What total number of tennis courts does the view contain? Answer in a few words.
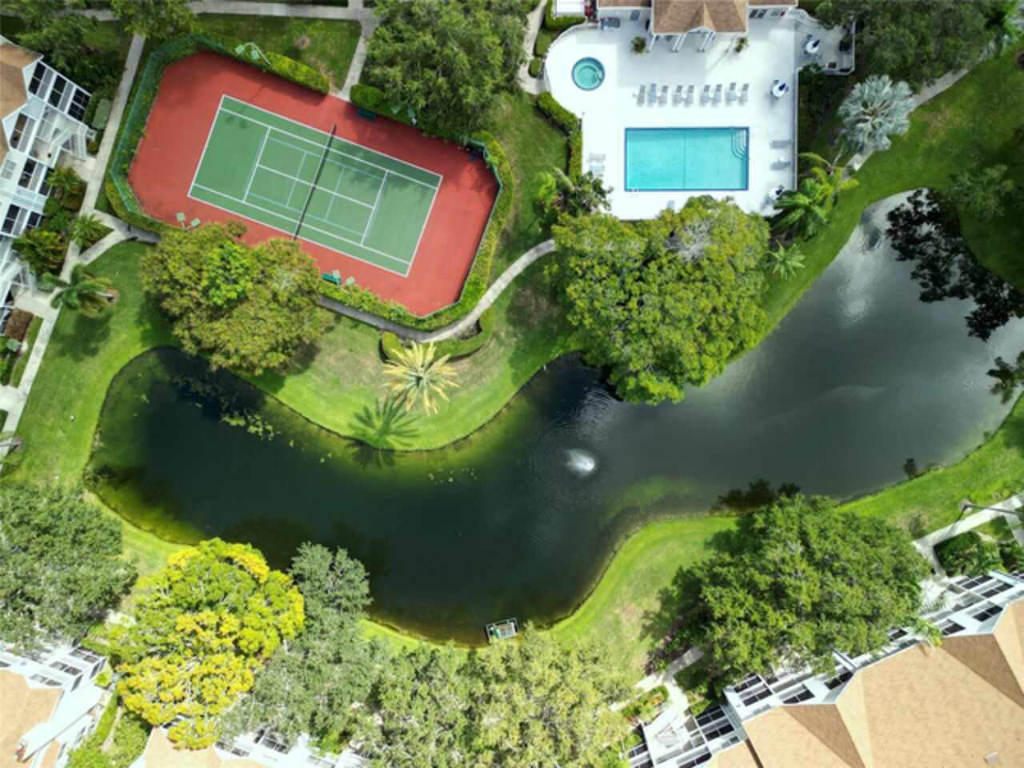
one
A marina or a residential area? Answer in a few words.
residential area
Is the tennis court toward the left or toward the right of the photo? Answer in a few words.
left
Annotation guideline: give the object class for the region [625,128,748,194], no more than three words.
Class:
swimming pool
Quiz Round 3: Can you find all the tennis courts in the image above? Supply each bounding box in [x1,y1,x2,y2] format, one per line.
[129,51,497,315]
